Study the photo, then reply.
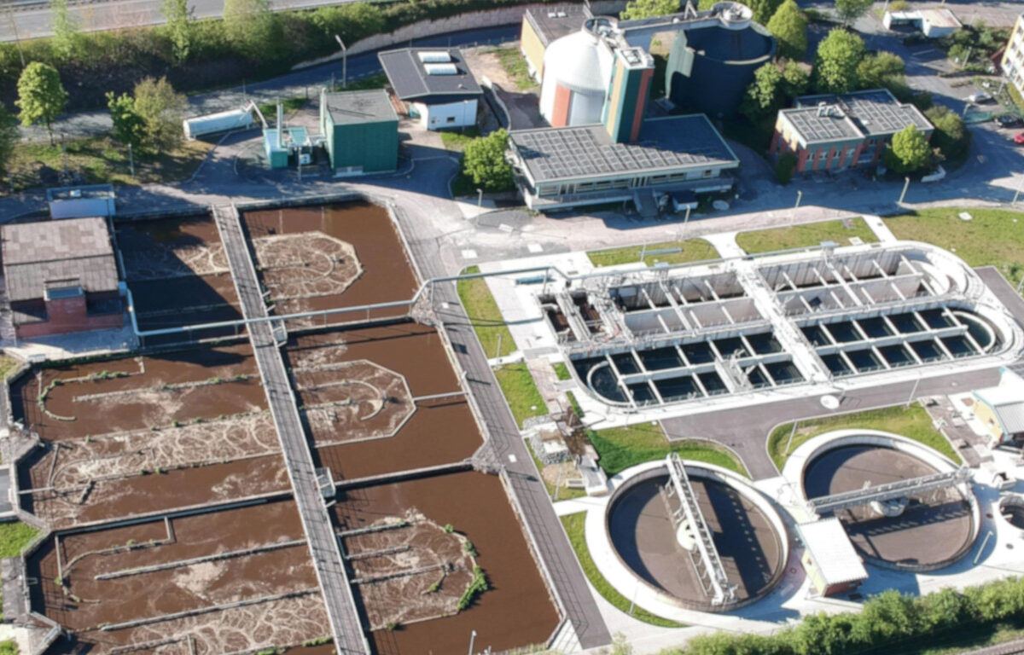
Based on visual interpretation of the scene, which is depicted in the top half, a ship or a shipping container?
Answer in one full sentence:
What appears in the top half is a shipping container.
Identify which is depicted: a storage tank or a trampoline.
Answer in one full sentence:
It is a storage tank that can be seen here.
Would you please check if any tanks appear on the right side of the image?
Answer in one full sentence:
Yes, on the right side of the image there is a tank.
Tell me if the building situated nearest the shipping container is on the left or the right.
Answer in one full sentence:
The building situated nearest the shipping container sits on the left side.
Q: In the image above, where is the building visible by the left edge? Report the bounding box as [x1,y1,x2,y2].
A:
[0,213,121,338]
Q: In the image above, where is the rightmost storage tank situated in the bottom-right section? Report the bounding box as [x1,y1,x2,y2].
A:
[991,489,1024,545]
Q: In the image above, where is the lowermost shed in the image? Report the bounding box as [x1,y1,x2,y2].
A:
[793,517,868,605]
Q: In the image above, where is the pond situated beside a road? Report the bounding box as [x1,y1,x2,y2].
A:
[3,191,568,655]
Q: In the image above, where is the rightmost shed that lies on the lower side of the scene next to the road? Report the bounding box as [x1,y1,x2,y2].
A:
[971,386,1024,445]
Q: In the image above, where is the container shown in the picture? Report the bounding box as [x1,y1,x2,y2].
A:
[51,184,117,215]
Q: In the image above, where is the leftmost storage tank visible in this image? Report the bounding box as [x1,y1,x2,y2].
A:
[184,105,255,139]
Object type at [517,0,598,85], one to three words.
building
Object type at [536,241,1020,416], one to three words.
storage tank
